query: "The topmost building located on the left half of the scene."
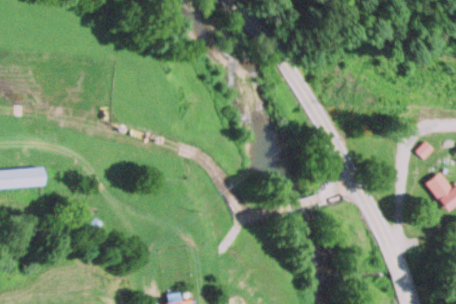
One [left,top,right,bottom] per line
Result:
[0,164,48,188]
